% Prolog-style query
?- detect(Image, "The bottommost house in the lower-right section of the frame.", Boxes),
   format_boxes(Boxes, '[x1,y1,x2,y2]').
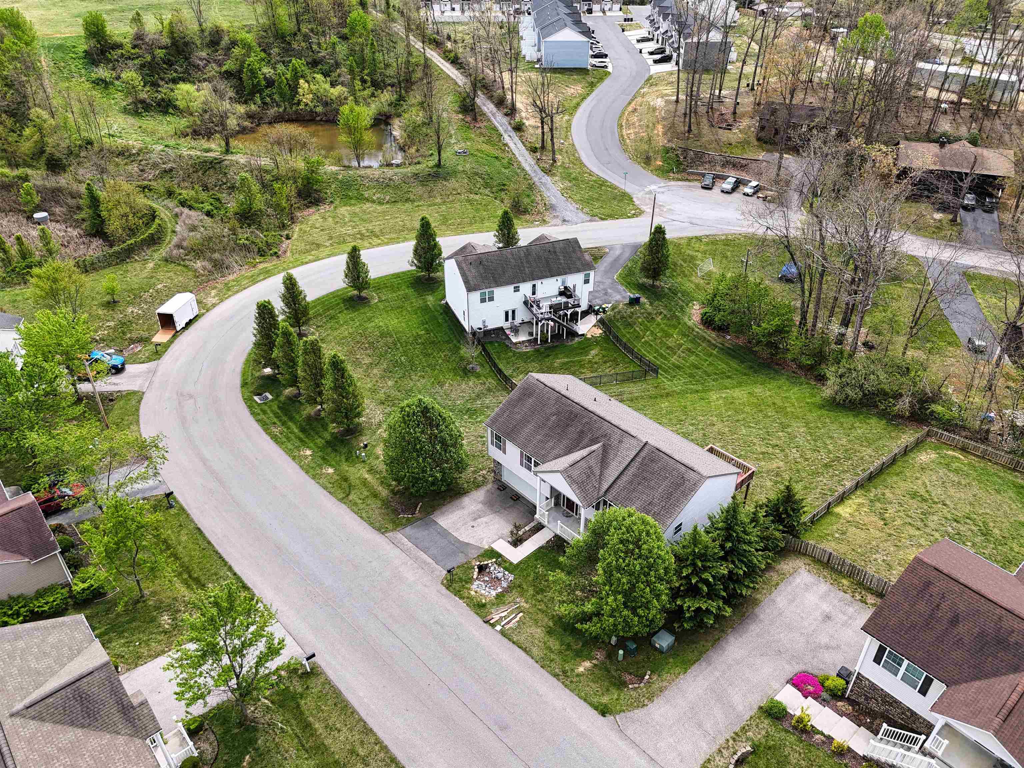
[846,535,1024,768]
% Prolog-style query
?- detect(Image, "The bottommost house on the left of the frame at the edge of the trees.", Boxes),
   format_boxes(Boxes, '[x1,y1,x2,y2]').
[0,613,236,768]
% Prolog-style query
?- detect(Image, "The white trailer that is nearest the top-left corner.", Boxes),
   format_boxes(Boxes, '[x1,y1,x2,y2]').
[150,293,196,340]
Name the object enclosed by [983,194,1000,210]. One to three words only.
car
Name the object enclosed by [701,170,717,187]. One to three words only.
vehicle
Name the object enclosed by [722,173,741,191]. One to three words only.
vehicle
